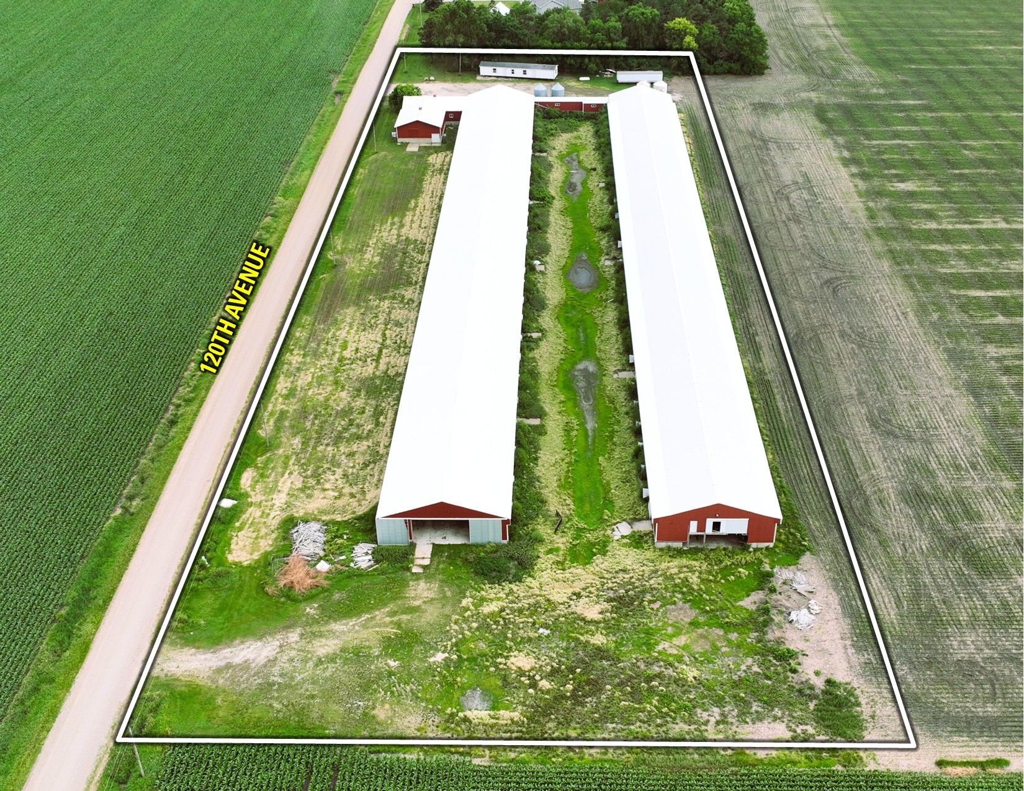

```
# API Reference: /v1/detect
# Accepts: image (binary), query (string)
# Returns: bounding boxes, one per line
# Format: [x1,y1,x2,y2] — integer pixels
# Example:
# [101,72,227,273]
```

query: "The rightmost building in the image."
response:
[606,86,783,550]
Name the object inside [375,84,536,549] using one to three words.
barn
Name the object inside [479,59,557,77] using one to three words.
house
